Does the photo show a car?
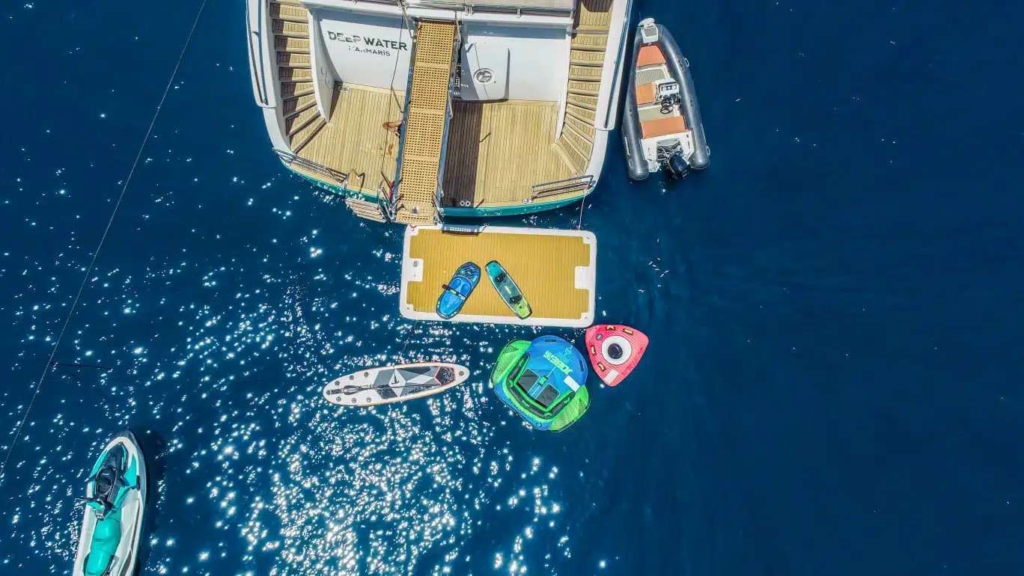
No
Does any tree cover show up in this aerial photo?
No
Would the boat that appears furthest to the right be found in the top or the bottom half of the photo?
top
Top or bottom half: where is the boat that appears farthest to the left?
bottom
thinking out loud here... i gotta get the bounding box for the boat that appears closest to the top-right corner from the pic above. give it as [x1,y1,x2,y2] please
[615,15,713,186]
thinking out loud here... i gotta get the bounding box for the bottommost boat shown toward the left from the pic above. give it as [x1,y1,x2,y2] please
[70,430,150,576]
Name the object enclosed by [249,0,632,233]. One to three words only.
boat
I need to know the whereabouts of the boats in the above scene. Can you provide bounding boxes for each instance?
[615,15,713,186]
[70,430,150,576]
[249,0,632,233]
